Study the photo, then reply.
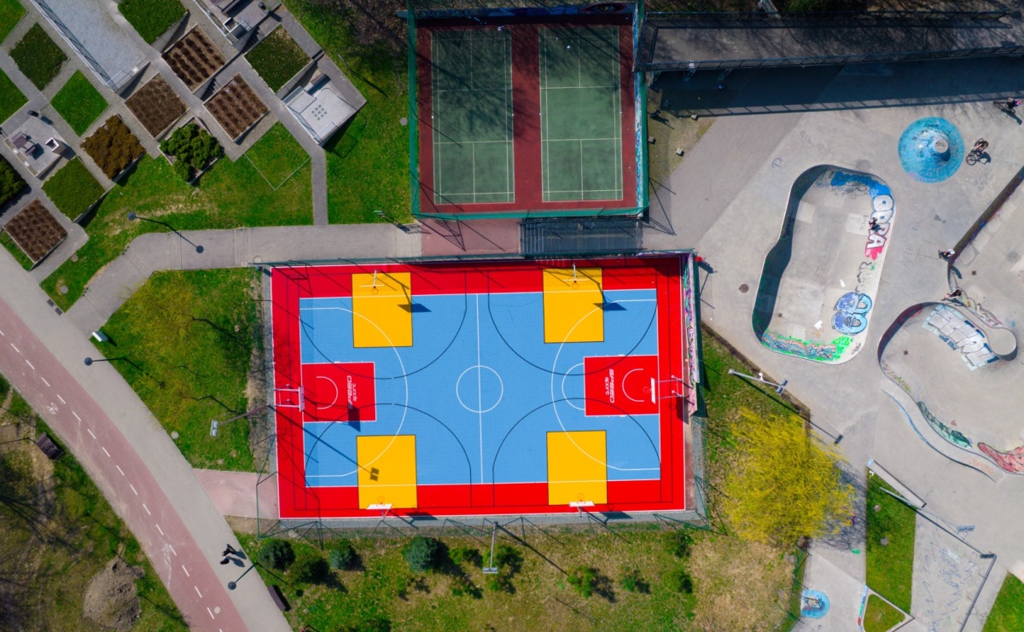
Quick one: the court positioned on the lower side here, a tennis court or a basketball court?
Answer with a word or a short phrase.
basketball court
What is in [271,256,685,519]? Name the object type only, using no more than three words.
basketball court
